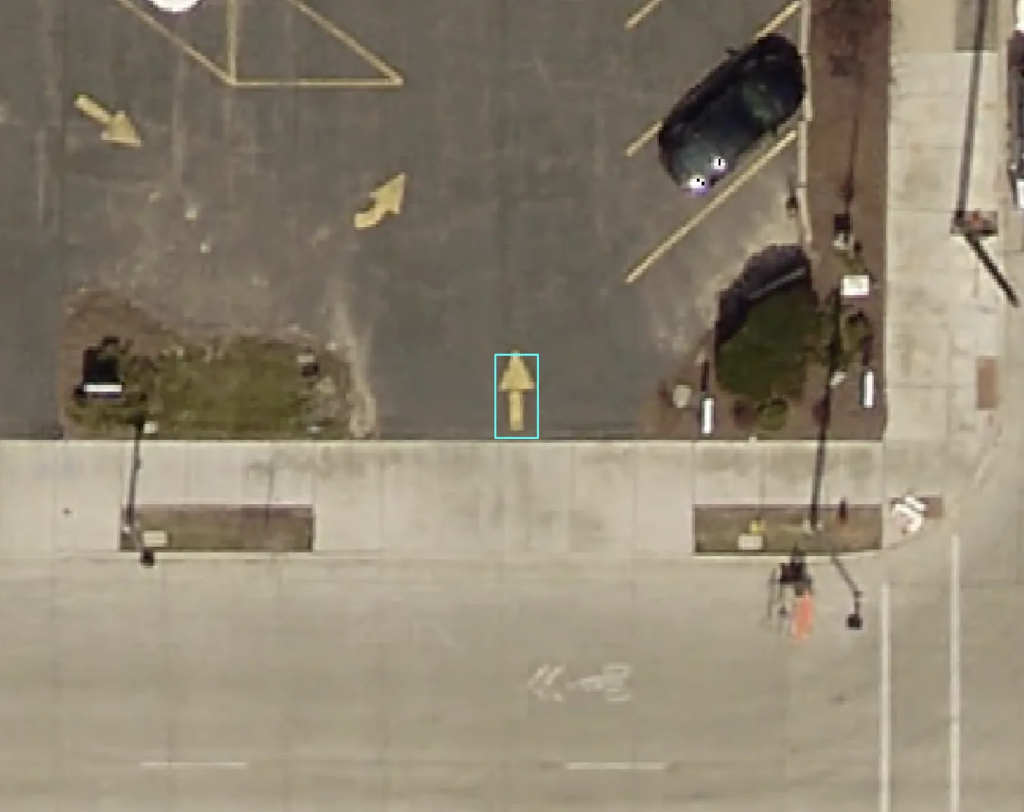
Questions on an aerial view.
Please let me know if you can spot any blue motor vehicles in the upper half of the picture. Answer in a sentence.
No, the scene shows no blue motor vehicle in the upper half of the picture.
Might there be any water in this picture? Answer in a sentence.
No, no water is visible.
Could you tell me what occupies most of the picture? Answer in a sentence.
Most of the picture is covered by paved ground.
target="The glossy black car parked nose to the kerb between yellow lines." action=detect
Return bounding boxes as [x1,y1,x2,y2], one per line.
[661,51,809,196]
